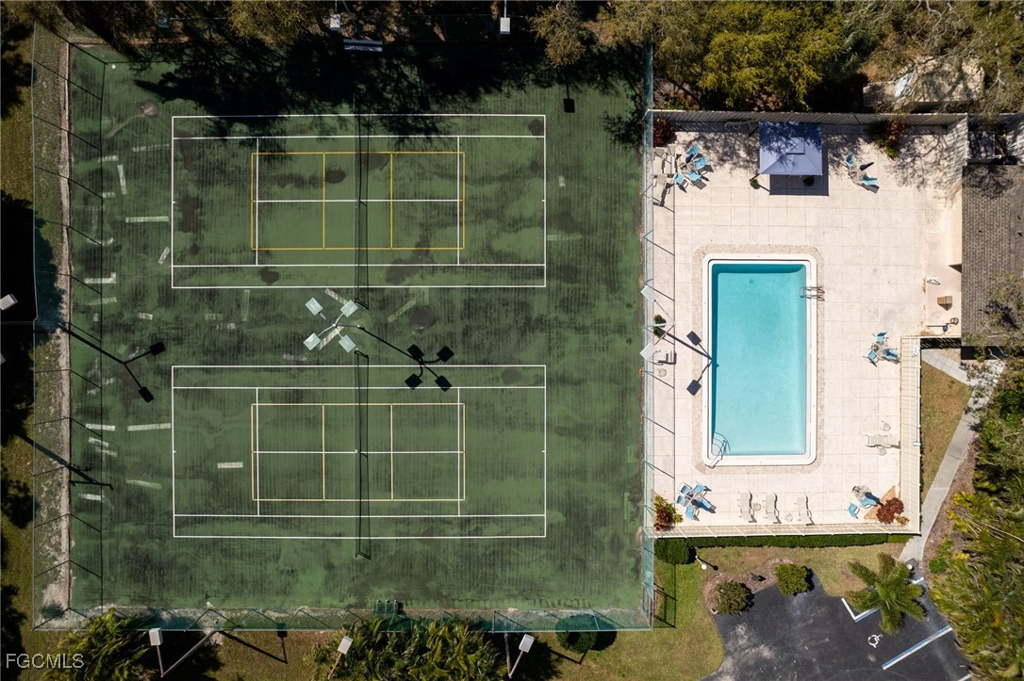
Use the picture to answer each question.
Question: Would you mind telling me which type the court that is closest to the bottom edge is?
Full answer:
The court that is closest to the bottom edge can be classified as a tennis court.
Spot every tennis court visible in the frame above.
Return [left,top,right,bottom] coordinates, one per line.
[172,115,546,288]
[172,365,546,538]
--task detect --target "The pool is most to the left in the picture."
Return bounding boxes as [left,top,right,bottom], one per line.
[697,246,824,474]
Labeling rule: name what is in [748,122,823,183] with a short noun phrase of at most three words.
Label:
gazebo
